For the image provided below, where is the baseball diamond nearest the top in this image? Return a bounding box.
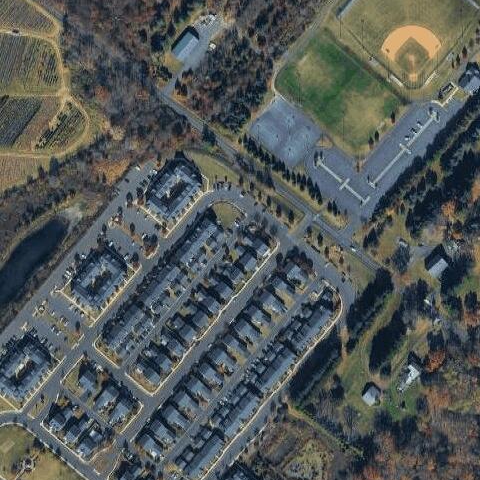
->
[338,0,480,88]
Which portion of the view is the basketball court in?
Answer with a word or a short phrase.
top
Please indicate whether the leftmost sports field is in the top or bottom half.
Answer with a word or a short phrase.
top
